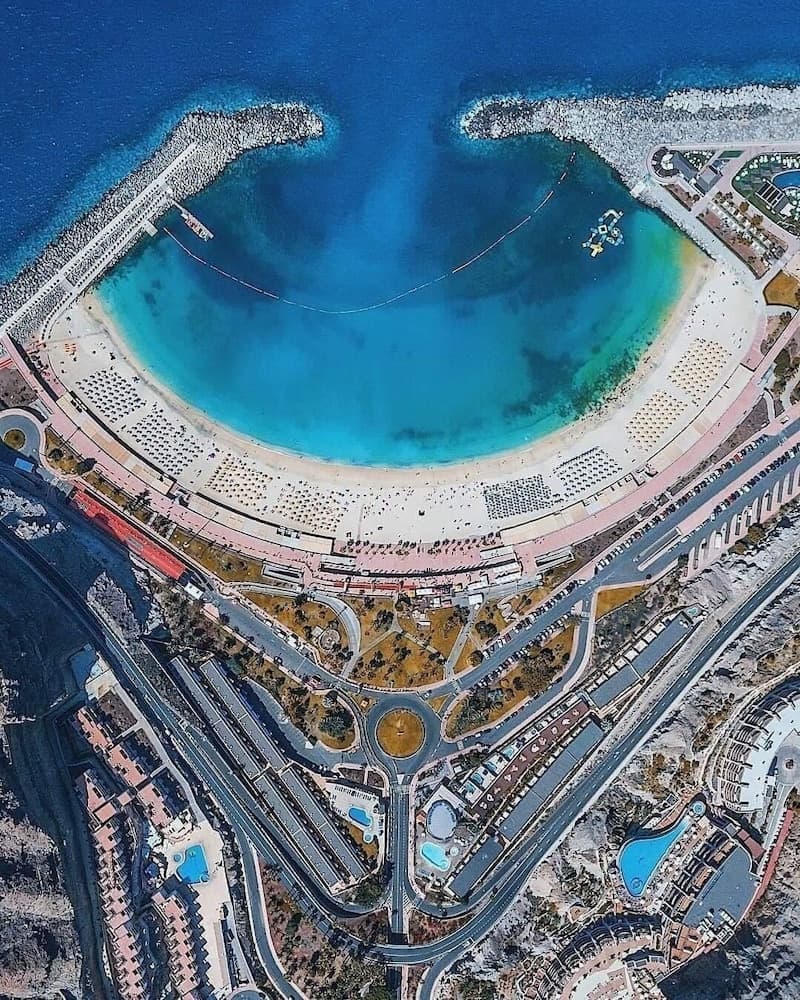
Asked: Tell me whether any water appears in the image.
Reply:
Yes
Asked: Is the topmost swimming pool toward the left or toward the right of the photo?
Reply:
right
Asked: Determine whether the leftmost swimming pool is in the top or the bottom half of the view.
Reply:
bottom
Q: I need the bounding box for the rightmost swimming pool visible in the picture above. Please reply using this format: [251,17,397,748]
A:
[772,169,800,190]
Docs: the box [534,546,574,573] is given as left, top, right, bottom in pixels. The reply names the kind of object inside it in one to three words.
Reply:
building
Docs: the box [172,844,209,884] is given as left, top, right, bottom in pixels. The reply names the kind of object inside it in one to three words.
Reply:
swimming pool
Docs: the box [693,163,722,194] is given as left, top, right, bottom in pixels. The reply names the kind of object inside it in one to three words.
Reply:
building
